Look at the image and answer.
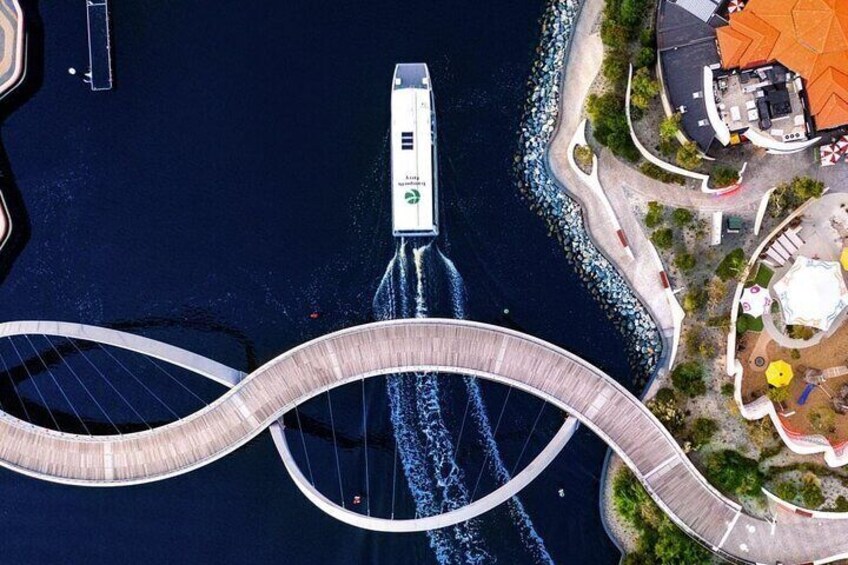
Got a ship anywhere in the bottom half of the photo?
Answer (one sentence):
No, in the bottom half of the photo there is no ship.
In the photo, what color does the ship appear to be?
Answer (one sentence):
The color of the ship is white.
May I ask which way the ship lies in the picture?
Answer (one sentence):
I'd say the ship is aligned vertically in the picture.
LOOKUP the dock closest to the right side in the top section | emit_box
[84,0,113,91]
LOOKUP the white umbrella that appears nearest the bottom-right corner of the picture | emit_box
[740,286,770,316]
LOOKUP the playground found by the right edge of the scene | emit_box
[735,209,848,457]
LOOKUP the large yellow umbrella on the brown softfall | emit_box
[764,360,789,385]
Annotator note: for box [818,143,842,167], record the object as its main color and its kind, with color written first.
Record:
white umbrella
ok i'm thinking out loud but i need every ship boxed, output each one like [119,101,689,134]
[389,63,438,236]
